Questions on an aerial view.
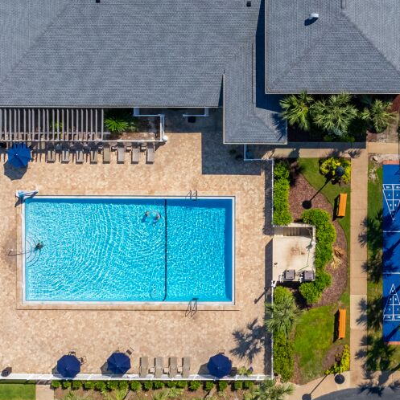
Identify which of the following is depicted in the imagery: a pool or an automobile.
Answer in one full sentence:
There is a pool in the scene.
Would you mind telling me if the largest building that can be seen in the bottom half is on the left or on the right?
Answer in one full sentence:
You can find the largest building that can be seen in the bottom half on the right side of the picture.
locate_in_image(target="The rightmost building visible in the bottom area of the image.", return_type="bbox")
[272,226,312,280]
